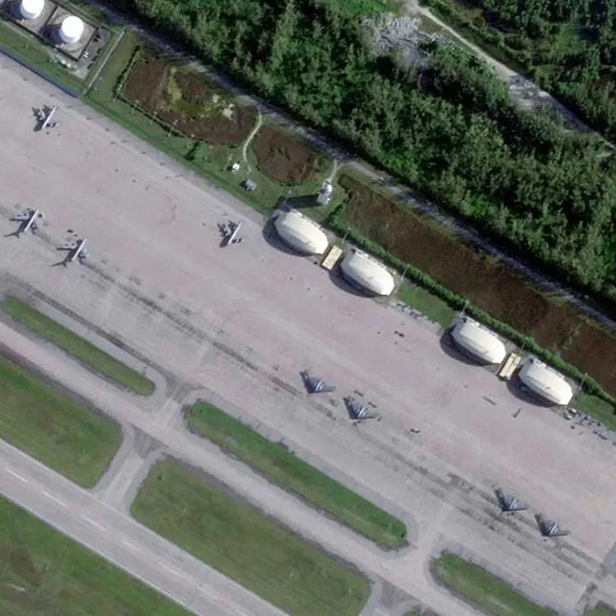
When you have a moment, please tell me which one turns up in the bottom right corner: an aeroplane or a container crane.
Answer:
aeroplane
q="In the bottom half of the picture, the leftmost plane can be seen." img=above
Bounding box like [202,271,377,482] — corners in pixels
[303,371,336,392]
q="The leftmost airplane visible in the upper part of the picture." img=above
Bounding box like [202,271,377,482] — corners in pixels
[10,209,41,237]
